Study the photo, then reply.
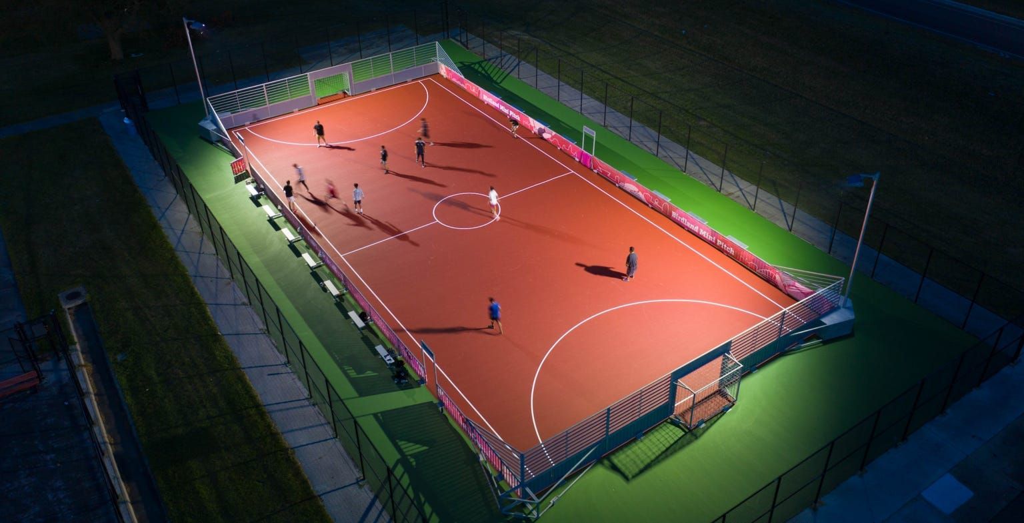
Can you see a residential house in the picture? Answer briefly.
No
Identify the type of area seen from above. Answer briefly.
sports ground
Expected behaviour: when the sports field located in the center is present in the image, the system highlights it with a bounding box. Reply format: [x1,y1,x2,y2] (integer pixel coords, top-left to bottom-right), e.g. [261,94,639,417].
[220,73,819,506]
